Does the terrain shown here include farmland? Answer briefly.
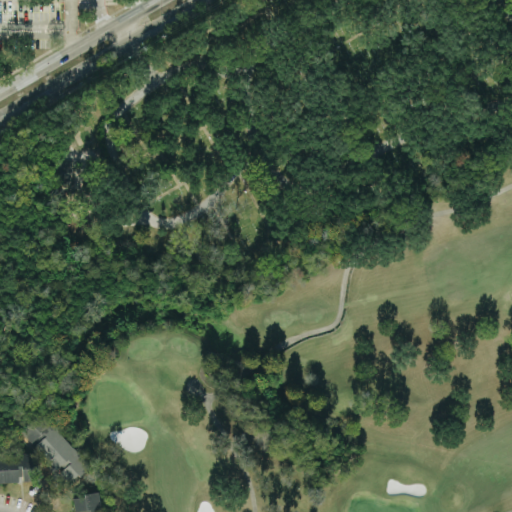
No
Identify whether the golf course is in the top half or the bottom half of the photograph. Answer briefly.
bottom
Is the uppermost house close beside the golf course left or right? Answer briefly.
left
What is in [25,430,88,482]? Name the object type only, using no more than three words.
house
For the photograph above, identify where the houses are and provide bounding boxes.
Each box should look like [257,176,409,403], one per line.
[73,494,99,512]
[25,430,88,482]
[0,462,30,486]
